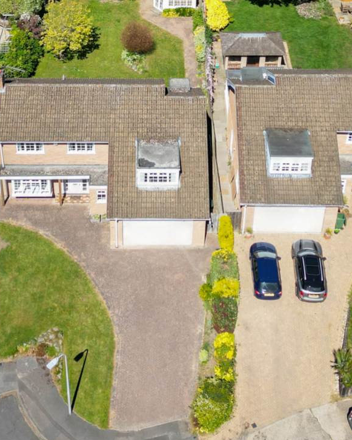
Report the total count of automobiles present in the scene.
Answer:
2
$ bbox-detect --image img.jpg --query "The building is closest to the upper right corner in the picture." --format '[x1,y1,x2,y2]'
[219,26,297,77]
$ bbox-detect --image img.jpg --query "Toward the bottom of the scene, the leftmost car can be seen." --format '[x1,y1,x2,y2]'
[246,243,283,300]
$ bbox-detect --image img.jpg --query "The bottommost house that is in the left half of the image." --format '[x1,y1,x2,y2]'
[0,60,211,246]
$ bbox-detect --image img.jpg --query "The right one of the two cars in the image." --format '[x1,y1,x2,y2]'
[290,239,329,300]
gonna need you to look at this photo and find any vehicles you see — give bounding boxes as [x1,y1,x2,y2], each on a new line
[290,239,329,300]
[246,243,283,300]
